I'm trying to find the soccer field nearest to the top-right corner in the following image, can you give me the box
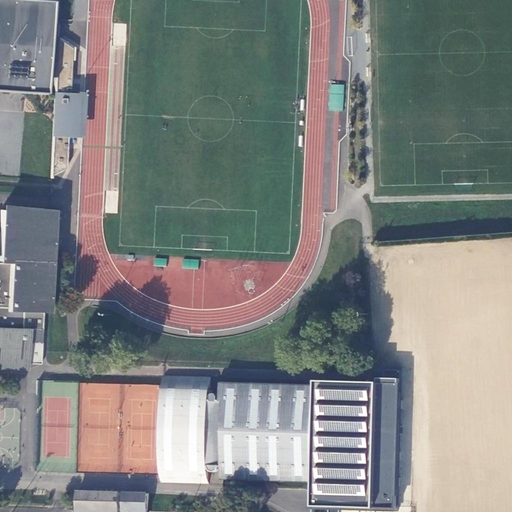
[372,0,512,195]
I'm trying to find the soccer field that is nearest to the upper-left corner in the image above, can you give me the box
[104,0,312,262]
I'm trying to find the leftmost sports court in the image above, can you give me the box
[0,408,20,471]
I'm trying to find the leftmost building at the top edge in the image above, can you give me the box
[0,0,64,95]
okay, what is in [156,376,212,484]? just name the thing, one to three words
building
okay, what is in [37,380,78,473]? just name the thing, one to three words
tennis court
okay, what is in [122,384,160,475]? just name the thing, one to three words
tennis court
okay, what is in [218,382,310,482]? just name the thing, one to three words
building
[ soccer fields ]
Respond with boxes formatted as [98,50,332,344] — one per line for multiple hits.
[372,0,512,195]
[104,0,312,262]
